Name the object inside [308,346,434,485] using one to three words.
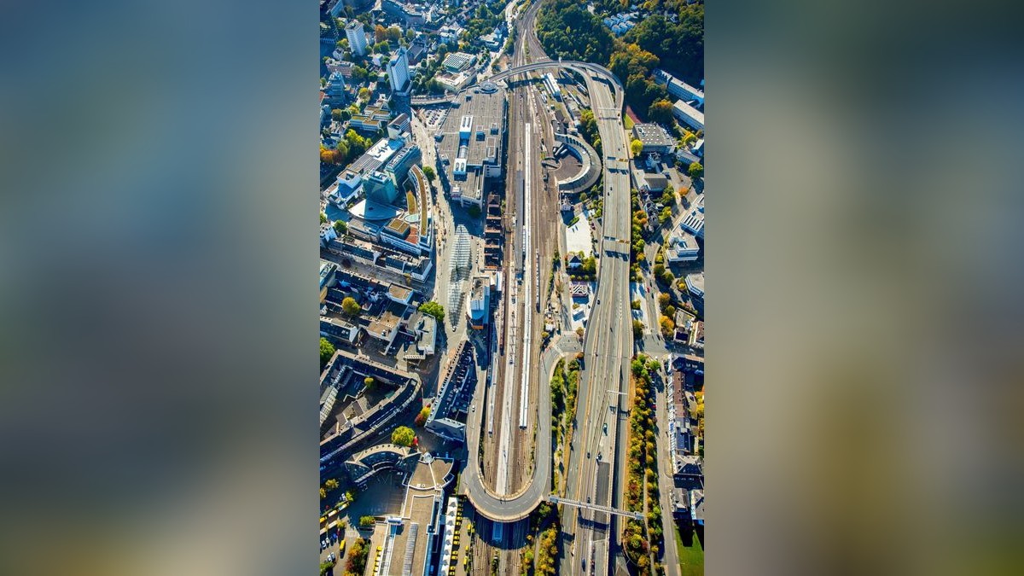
building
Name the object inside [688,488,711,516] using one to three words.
house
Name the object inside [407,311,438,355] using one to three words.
building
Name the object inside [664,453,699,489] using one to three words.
house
